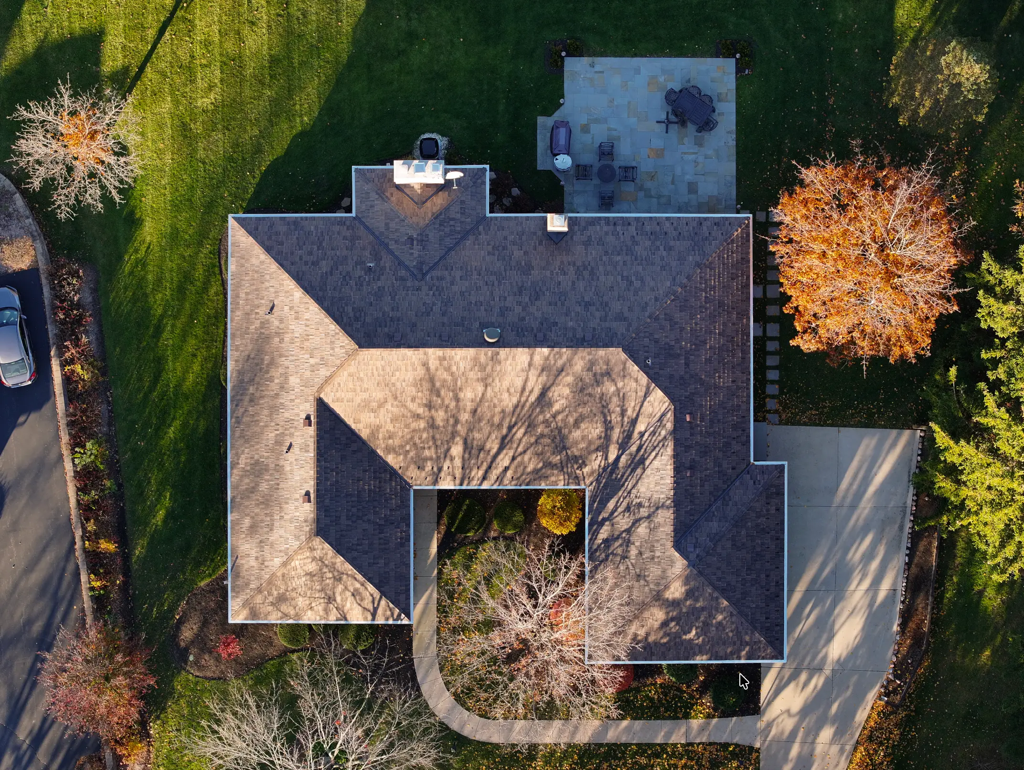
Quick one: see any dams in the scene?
No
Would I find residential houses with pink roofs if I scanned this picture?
No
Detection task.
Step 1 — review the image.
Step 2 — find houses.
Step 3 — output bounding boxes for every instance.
[227,160,786,664]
